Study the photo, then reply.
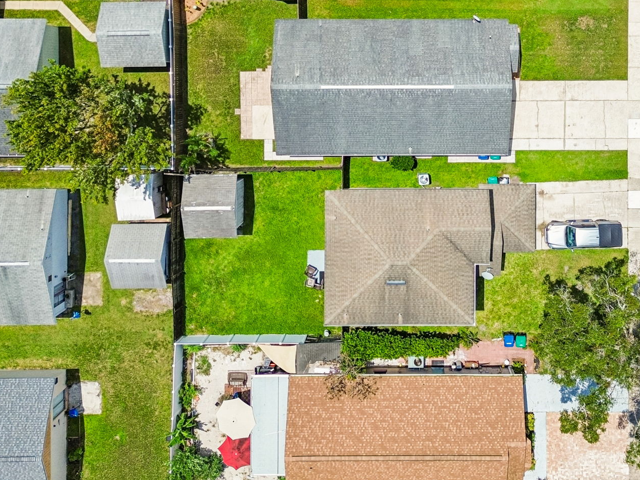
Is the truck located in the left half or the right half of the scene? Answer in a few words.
right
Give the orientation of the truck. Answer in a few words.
horizontally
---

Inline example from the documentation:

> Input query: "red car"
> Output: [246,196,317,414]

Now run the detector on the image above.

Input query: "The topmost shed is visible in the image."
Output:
[94,1,170,68]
